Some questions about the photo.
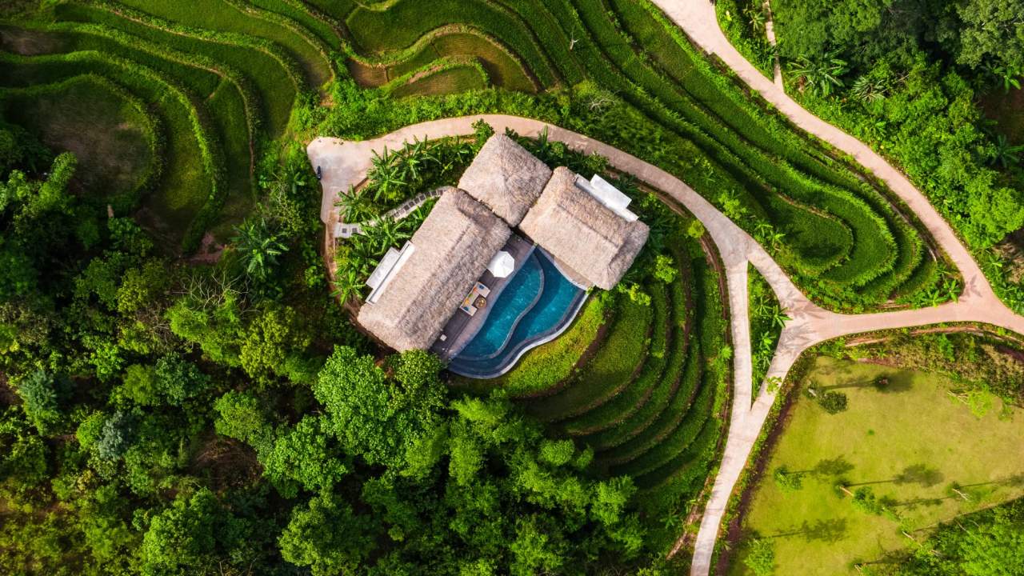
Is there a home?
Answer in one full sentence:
Yes, a home is visible in the scene.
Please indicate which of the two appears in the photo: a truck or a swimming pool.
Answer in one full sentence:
The image shows a swimming pool.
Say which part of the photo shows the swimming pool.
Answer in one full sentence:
The swimming pool is in the center part of the image.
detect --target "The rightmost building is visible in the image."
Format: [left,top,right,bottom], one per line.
[519,167,648,289]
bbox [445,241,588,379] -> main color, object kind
blue swimming pool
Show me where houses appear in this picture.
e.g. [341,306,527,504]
[457,132,553,228]
[519,167,648,289]
[362,192,508,356]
